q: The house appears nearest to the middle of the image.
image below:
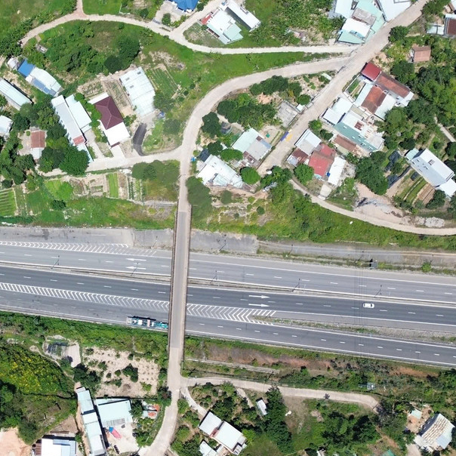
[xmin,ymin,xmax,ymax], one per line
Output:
[200,156,243,190]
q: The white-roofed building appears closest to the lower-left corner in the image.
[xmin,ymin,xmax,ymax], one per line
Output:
[33,438,74,456]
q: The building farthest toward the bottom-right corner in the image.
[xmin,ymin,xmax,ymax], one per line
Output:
[414,414,454,452]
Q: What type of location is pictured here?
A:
residential area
